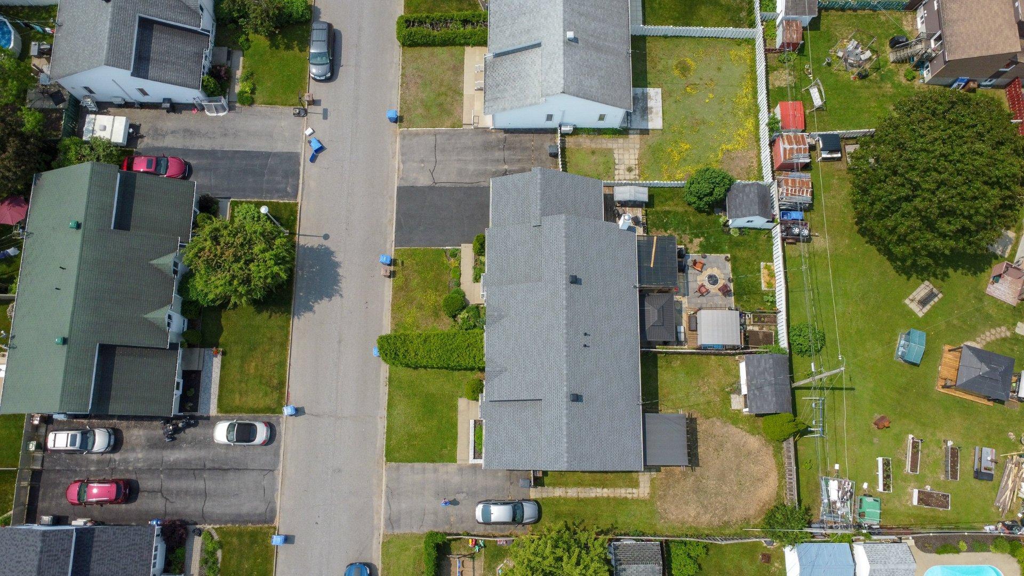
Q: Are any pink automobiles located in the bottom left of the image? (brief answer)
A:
Yes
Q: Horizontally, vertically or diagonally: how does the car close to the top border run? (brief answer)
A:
vertically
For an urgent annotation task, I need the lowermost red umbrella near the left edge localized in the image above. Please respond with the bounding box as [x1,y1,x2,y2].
[0,190,30,225]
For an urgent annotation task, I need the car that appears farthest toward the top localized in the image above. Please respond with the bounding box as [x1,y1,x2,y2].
[305,20,336,81]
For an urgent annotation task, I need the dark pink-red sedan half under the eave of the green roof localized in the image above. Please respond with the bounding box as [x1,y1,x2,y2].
[123,154,189,181]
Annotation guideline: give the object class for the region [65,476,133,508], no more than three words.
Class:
car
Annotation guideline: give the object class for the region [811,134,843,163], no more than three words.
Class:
shed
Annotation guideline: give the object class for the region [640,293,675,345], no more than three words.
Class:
gazebo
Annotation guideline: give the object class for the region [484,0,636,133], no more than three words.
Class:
house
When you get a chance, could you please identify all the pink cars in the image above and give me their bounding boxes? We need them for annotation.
[65,476,133,508]
[123,154,189,181]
